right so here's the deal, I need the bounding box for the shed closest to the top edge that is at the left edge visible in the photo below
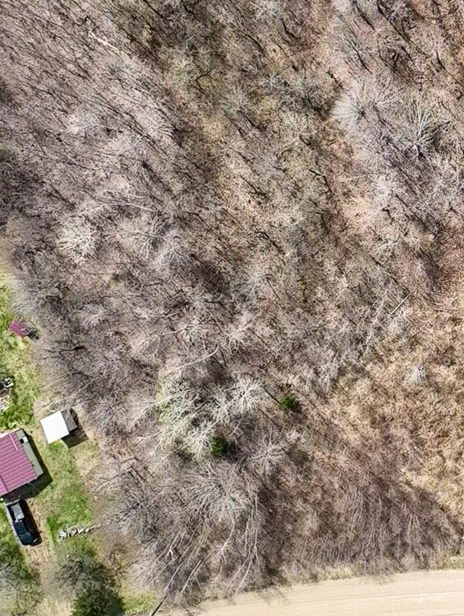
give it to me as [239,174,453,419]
[9,320,36,339]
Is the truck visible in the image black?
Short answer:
Yes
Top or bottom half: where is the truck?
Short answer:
bottom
